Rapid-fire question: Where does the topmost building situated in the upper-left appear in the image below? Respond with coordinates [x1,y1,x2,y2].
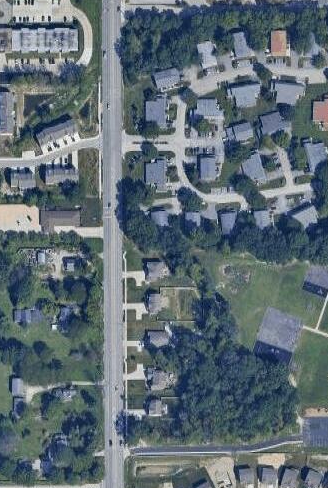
[0,27,78,52]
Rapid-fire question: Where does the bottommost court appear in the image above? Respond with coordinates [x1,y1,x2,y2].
[253,307,302,364]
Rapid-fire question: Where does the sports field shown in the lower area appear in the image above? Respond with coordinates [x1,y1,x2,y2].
[196,251,328,407]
